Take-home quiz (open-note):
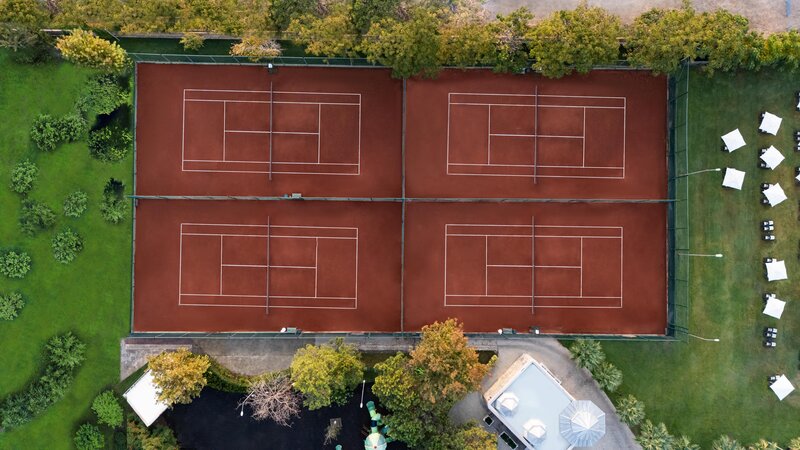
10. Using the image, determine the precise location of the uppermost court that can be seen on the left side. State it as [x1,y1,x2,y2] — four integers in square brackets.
[136,64,403,198]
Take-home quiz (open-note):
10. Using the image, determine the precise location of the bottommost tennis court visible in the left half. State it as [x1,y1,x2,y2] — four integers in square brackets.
[134,198,402,332]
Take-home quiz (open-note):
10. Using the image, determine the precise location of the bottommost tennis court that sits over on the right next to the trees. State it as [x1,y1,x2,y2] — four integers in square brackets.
[403,201,667,334]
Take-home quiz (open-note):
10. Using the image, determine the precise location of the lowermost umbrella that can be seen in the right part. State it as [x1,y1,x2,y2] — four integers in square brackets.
[768,375,795,400]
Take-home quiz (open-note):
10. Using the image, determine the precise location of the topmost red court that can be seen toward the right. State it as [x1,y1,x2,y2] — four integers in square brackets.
[405,66,667,200]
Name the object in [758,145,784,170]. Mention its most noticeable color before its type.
white umbrella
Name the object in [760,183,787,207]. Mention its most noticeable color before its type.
white umbrella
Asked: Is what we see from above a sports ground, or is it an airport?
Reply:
sports ground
